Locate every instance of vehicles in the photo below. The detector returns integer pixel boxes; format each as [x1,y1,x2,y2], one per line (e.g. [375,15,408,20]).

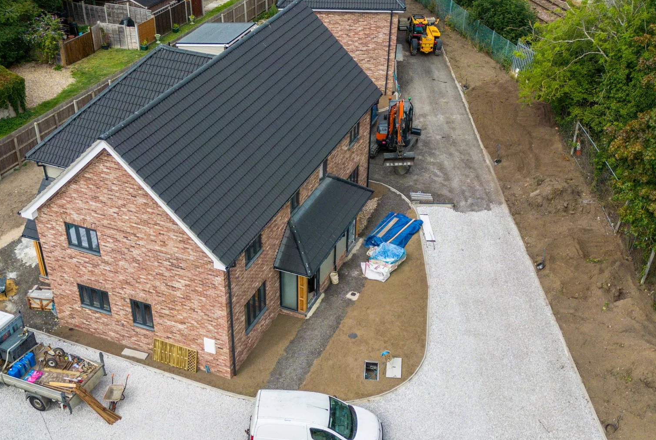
[0,311,110,417]
[407,12,444,56]
[242,388,386,440]
[376,96,413,160]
